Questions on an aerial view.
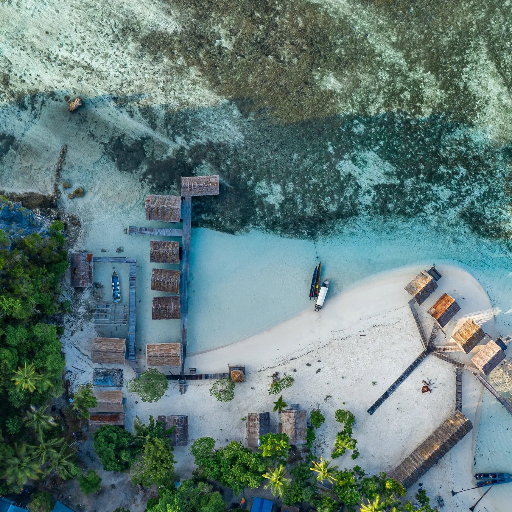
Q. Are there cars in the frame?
No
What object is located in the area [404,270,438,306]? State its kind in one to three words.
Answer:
shed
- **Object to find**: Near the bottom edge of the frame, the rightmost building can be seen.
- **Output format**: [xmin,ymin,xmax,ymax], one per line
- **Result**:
[386,407,476,492]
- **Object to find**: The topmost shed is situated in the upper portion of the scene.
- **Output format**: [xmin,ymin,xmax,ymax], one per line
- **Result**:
[181,175,221,197]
